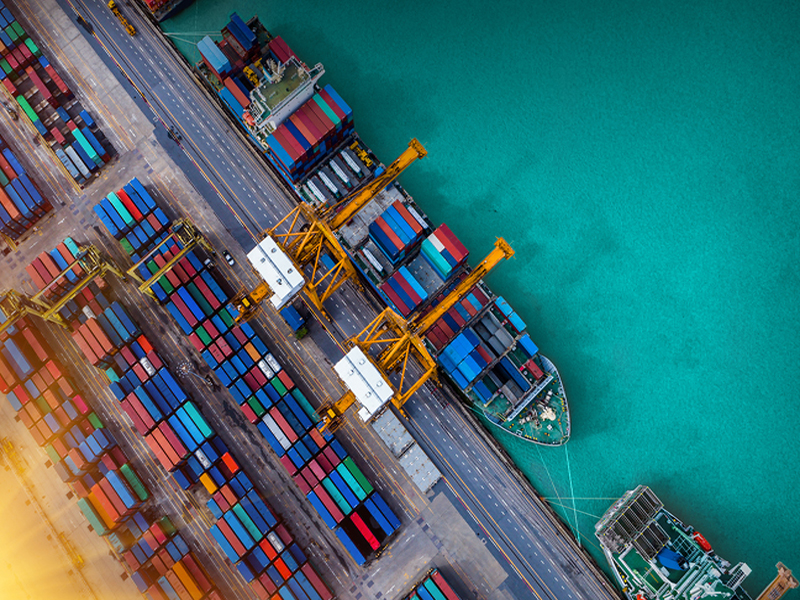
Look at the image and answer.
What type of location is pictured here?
port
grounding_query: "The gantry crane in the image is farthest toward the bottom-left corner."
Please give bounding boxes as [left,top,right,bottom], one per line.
[0,288,46,335]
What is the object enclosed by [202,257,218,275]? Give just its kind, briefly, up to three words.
vehicle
